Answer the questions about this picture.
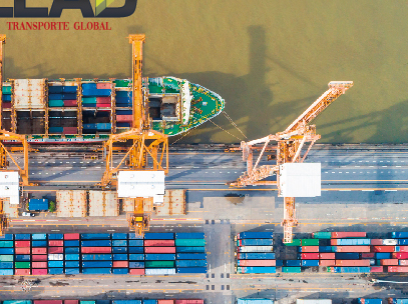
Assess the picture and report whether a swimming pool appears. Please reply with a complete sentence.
No, I can't see a single swimming pool in this photo.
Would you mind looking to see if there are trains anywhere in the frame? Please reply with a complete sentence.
No, there is no train in the image.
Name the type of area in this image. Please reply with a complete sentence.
What you see here is a port.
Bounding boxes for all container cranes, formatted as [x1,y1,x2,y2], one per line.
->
[92,34,170,234]
[0,34,42,234]
[228,76,356,245]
